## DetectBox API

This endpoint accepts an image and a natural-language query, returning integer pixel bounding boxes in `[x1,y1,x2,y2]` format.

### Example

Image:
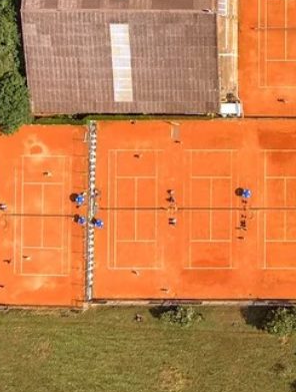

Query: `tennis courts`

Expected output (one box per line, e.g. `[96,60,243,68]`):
[238,0,296,117]
[5,124,86,307]
[174,117,248,299]
[95,120,174,299]
[248,117,296,299]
